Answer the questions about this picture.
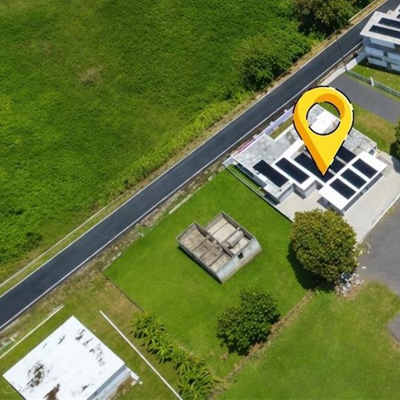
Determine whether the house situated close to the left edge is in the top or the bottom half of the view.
bottom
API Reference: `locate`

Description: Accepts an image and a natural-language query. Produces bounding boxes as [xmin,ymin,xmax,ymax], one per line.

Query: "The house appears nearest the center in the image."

[231,103,388,219]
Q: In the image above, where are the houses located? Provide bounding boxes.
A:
[231,103,388,219]
[2,316,140,400]
[359,5,400,76]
